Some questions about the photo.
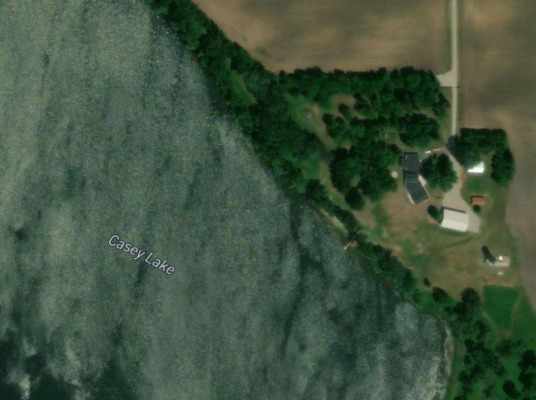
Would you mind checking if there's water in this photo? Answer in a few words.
Yes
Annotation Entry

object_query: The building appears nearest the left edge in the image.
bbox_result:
[401,155,429,205]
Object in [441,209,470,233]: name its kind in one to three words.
barn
